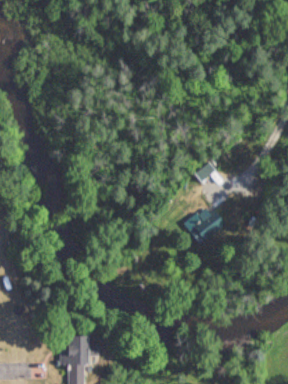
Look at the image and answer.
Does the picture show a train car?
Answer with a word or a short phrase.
No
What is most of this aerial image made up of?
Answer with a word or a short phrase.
trees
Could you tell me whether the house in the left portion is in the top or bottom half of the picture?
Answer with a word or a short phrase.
bottom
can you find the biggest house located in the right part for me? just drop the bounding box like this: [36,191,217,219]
[184,204,225,238]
